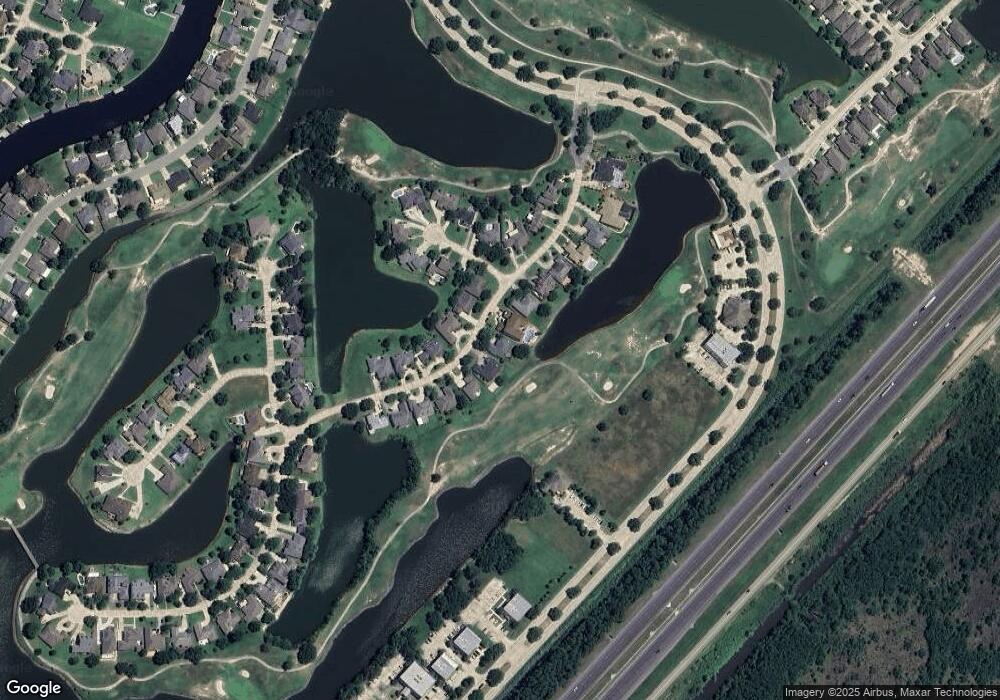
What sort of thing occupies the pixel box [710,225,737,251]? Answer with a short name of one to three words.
building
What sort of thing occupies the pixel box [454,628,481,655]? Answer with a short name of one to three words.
building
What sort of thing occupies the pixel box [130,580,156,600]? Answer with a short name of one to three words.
house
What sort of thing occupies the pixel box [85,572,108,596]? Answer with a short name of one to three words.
house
